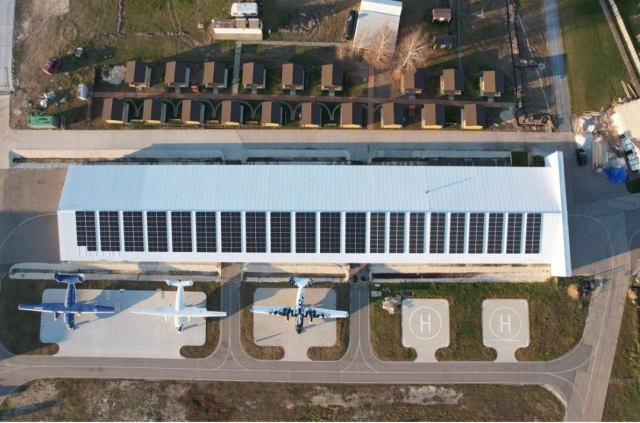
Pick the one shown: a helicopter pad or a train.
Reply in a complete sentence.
The image shows a helicopter pad.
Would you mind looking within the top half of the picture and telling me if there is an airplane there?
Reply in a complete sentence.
No, the scene shows no airplane within the top half of the picture.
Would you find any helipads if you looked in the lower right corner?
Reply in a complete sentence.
Yes, I can see a helipad in the lower right corner.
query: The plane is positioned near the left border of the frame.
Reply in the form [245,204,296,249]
[19,274,116,332]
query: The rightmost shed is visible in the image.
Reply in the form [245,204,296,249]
[599,99,640,141]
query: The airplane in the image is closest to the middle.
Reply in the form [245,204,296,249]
[251,277,348,335]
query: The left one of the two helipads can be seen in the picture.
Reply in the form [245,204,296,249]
[401,298,449,361]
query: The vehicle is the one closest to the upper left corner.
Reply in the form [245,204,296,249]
[42,54,62,77]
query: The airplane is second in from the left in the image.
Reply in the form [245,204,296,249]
[131,277,228,335]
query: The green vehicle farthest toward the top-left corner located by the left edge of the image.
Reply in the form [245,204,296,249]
[25,115,62,129]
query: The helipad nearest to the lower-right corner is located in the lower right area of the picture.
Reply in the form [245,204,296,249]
[483,298,531,362]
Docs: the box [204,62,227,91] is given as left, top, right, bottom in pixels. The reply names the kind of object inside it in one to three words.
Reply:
building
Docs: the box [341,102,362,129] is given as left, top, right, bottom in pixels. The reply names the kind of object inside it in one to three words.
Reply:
building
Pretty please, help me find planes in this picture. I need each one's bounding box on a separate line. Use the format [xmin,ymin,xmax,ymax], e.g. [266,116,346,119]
[131,277,228,335]
[251,277,348,335]
[19,274,116,332]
